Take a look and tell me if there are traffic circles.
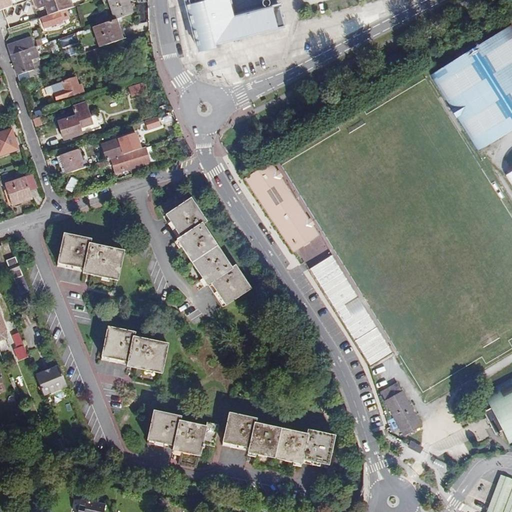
Yes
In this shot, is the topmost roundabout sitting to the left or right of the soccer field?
left of it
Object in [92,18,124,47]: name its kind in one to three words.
house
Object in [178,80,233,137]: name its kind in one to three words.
roundabout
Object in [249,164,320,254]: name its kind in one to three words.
building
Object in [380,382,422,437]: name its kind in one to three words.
building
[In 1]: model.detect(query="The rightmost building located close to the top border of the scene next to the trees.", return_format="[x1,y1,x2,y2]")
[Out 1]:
[431,26,512,152]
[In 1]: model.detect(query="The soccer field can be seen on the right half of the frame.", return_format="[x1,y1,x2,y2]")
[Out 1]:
[283,80,512,390]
